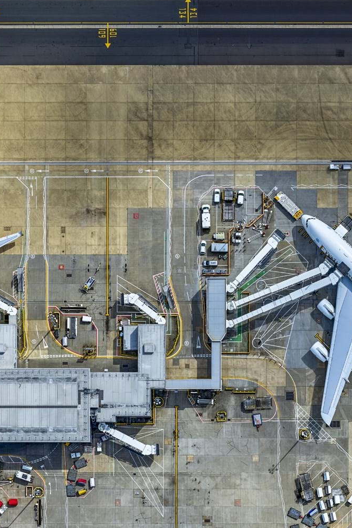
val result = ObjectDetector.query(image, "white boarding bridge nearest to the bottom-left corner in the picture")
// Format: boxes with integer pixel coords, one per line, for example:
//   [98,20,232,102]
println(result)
[97,423,158,455]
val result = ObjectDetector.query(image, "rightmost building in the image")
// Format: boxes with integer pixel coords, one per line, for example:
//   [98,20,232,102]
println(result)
[206,279,226,342]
